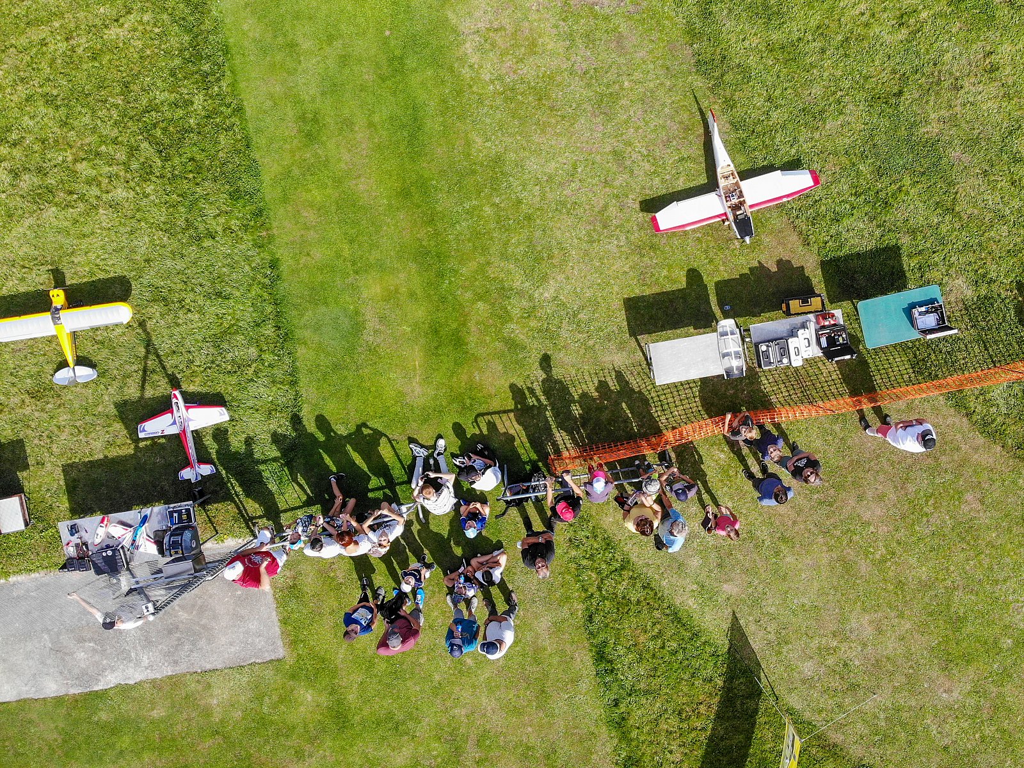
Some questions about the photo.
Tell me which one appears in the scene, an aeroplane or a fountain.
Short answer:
aeroplane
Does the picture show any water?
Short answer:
No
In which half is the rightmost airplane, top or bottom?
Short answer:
top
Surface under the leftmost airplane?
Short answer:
grass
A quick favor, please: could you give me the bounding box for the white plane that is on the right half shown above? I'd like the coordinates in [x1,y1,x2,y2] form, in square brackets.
[651,108,821,244]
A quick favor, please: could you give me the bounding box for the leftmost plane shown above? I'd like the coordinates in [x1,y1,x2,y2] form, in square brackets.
[0,287,134,387]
